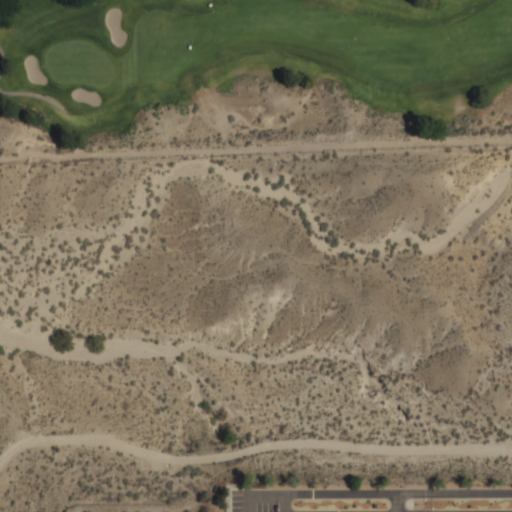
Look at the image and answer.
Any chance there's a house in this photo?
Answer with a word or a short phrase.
No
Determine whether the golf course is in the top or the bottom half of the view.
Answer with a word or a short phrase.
top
